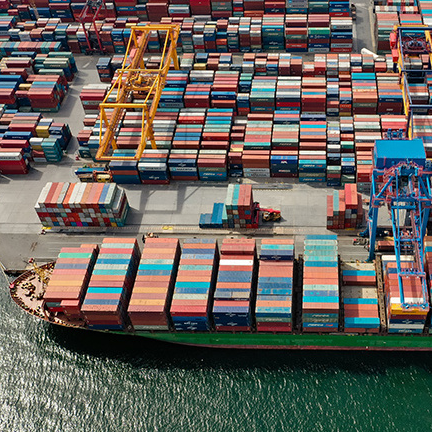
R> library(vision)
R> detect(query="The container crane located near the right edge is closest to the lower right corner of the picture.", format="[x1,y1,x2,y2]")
[357,128,432,310]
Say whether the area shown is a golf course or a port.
port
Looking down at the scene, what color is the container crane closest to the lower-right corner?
blue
